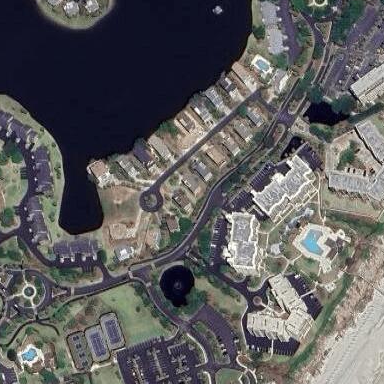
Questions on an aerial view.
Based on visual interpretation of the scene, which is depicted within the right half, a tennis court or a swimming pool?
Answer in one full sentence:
The one visible within the right half is a swimming pool.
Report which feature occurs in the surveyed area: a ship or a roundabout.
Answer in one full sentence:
The one in the frame is a roundabout.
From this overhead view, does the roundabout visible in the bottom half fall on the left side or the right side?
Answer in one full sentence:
The roundabout visible in the bottom half sits on the left side.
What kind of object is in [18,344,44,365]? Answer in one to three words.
swimming pool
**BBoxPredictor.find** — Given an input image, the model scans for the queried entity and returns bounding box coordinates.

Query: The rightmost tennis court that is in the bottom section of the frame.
[102,316,126,354]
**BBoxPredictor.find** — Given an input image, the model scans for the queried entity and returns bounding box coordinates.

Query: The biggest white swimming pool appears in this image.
[293,223,348,273]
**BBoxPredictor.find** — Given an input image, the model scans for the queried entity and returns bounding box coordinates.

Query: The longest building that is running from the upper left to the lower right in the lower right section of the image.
[269,275,311,320]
